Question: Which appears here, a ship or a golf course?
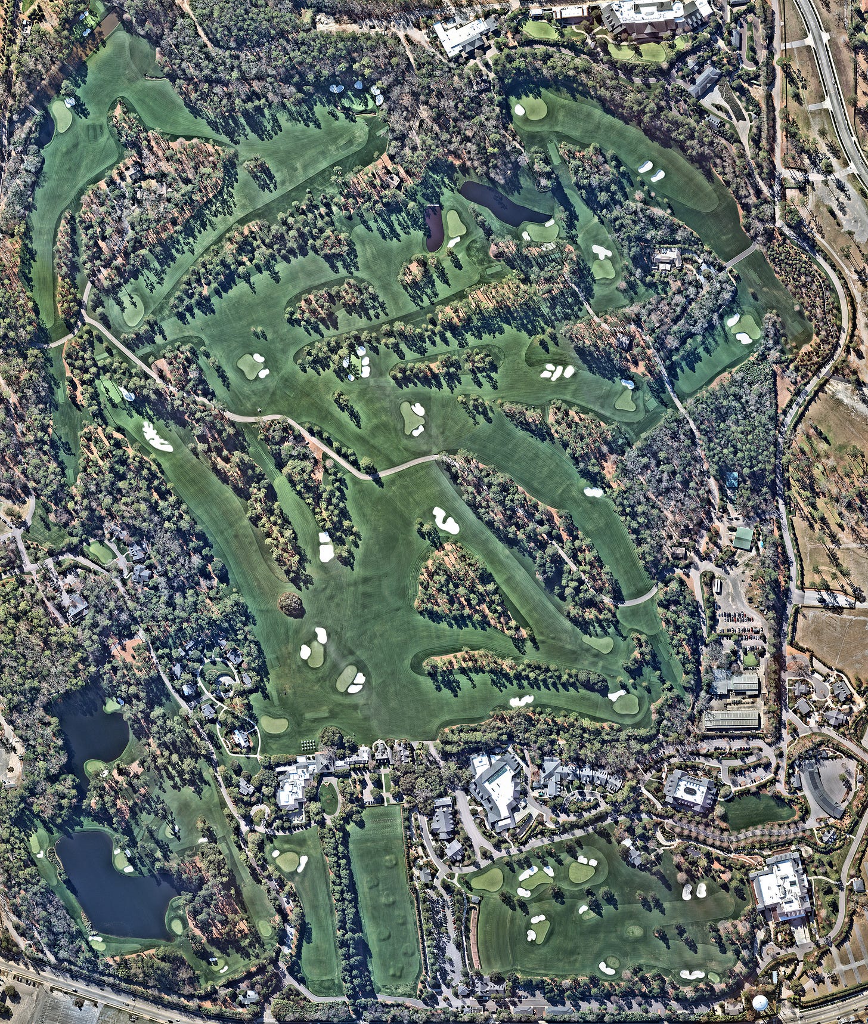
golf course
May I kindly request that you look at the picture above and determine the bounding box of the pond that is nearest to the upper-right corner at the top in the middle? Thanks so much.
[460,181,553,228]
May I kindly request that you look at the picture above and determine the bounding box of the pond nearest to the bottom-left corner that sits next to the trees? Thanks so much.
[55,831,181,942]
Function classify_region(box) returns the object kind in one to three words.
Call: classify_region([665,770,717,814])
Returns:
building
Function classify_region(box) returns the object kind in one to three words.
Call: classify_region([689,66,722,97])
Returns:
building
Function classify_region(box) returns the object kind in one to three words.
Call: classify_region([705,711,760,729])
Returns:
shed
